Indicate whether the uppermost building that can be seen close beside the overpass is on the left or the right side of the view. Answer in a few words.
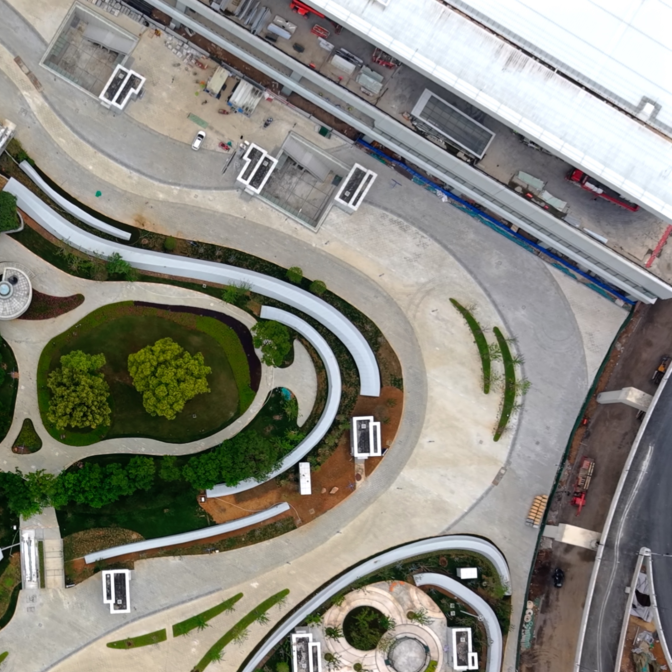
right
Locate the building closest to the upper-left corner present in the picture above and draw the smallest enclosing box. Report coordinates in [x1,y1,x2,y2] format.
[99,64,146,113]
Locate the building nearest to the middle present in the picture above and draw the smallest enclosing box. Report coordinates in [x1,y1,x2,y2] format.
[351,416,381,459]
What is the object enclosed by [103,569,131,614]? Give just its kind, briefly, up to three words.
building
